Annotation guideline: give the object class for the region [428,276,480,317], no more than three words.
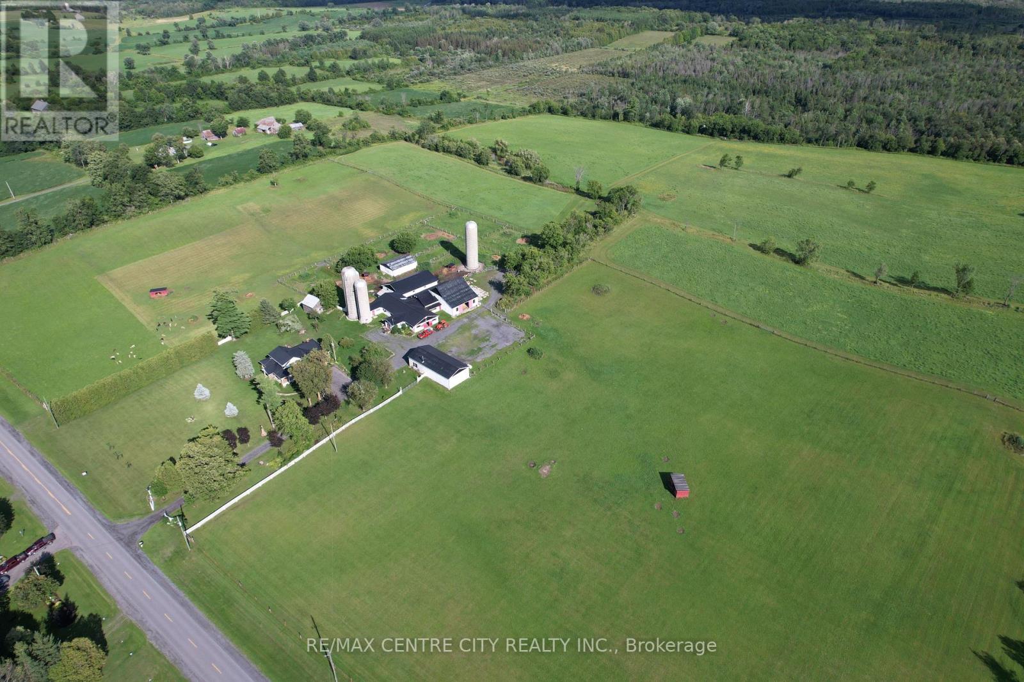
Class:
barn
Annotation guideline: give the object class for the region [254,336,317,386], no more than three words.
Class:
house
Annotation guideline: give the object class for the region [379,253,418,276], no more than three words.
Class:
shed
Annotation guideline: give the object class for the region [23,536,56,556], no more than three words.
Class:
vehicle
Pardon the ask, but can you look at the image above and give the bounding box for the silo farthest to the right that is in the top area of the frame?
[465,216,480,270]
